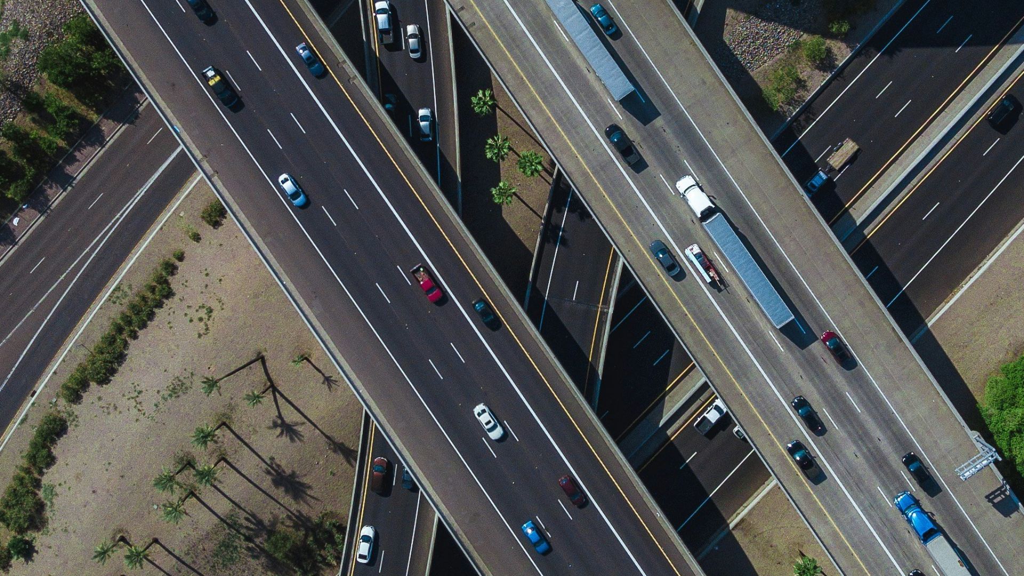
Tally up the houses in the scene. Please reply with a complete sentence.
I count no houses.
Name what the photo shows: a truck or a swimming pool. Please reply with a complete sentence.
Looking from above, you can make out a truck.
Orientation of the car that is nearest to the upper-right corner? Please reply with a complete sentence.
The car that is nearest to the upper-right corner runs at an angle in the image.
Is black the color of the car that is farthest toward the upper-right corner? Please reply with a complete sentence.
Yes, the car that is farthest toward the upper-right corner is black.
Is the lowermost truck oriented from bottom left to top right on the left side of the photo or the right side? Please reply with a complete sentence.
The lowermost truck oriented from bottom left to top right sits on the right side.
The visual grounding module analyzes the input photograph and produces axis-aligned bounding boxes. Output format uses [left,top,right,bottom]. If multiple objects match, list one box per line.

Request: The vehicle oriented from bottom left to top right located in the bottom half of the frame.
[691,399,726,436]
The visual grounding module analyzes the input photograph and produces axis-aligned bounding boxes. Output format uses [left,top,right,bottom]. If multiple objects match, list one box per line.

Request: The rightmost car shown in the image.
[980,95,1017,131]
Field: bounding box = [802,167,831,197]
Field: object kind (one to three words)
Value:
truck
